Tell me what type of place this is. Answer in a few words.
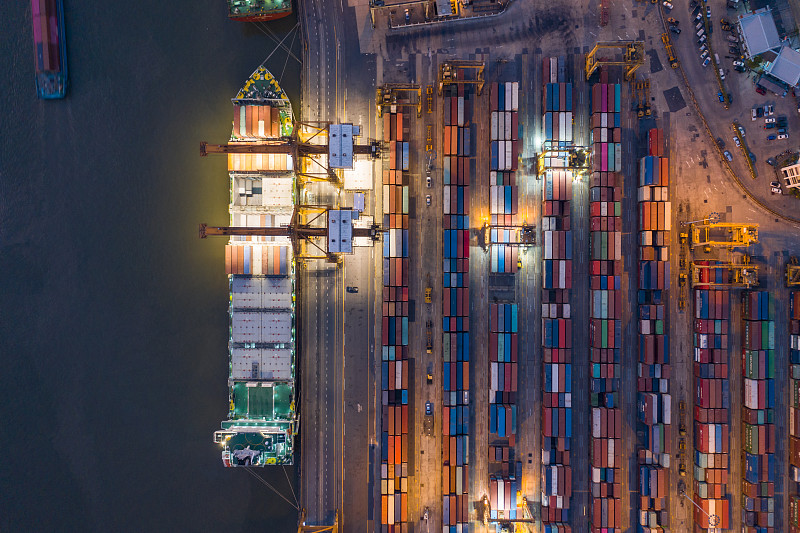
port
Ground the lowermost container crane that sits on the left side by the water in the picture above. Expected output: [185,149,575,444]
[295,509,338,533]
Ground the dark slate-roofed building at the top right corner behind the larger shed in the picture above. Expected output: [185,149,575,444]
[765,0,797,38]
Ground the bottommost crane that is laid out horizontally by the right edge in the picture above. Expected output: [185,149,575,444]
[690,259,760,291]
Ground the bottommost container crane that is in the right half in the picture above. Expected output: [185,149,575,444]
[483,492,539,533]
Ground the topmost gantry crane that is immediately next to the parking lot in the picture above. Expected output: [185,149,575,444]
[588,41,651,84]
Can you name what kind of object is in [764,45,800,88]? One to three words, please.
building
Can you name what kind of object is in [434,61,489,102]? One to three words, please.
container crane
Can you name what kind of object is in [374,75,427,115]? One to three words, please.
container crane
